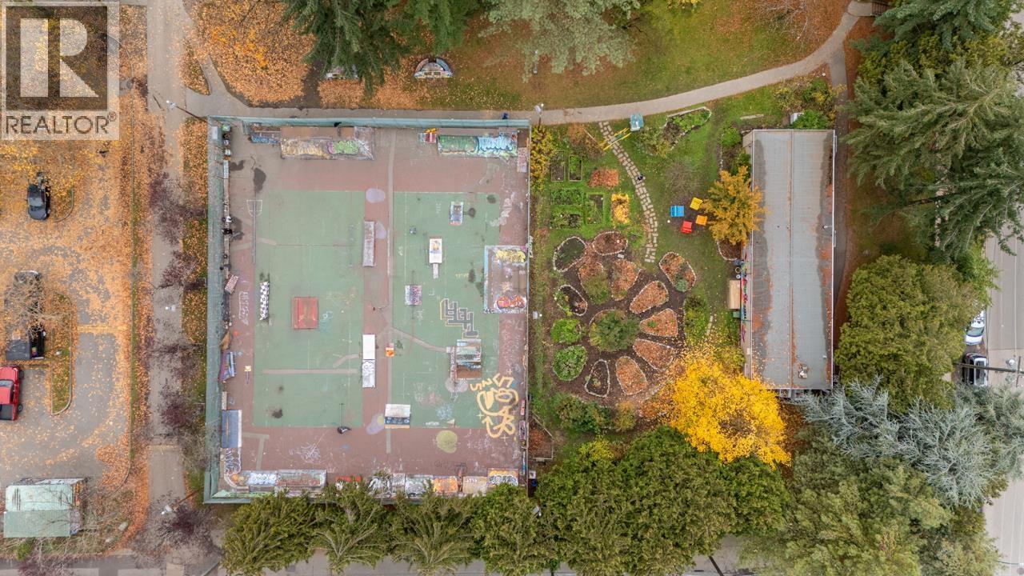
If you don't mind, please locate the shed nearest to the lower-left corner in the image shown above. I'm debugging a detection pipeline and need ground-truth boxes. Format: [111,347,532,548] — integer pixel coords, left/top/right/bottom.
[2,481,85,538]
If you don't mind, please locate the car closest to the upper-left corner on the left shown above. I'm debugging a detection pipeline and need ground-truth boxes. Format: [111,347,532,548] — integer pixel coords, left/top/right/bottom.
[21,173,49,220]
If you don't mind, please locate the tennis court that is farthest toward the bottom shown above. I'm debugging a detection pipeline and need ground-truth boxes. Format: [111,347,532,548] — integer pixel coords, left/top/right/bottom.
[222,127,528,490]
